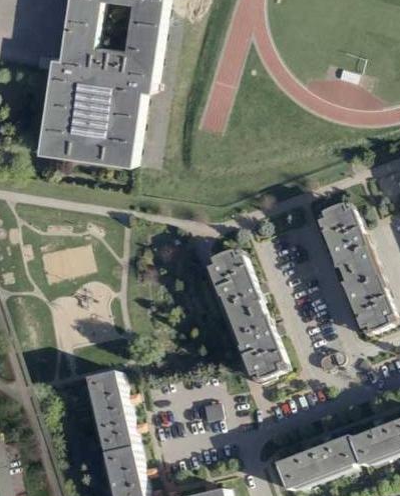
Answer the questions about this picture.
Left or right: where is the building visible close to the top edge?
left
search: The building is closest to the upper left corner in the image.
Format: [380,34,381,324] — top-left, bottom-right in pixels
[37,0,173,174]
